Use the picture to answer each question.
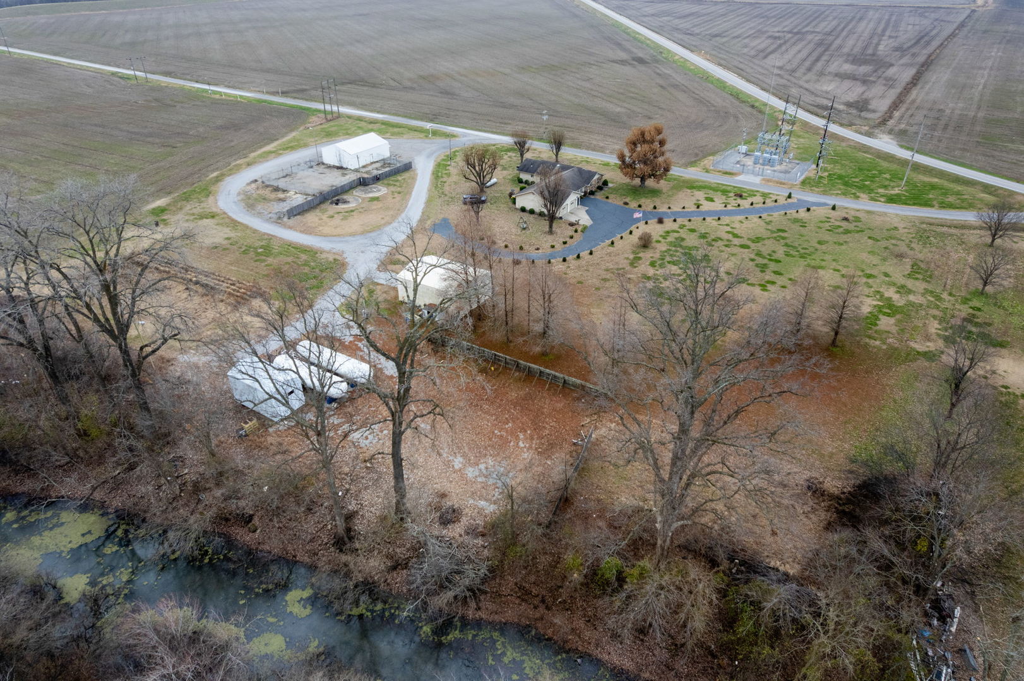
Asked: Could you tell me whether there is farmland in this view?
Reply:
Yes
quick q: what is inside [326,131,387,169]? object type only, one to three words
shed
